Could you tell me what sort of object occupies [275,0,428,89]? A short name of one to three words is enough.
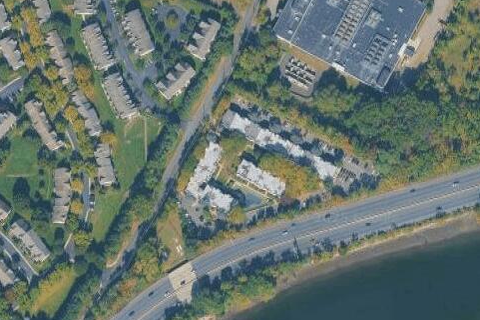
building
